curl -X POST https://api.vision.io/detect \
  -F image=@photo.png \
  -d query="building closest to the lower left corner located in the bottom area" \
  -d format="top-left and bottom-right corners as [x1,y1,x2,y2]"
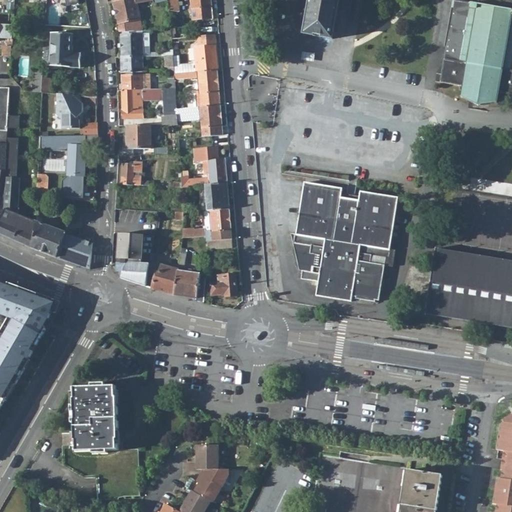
[62,380,118,454]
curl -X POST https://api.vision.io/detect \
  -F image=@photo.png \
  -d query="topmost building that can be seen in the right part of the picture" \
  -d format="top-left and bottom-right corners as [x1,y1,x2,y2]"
[300,0,337,40]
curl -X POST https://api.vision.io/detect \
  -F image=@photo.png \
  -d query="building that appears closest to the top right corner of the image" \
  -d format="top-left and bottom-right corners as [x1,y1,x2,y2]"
[436,0,512,112]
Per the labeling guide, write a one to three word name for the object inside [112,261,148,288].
building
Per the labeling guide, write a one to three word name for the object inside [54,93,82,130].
house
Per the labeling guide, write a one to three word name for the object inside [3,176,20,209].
shed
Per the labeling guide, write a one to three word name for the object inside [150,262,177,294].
house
